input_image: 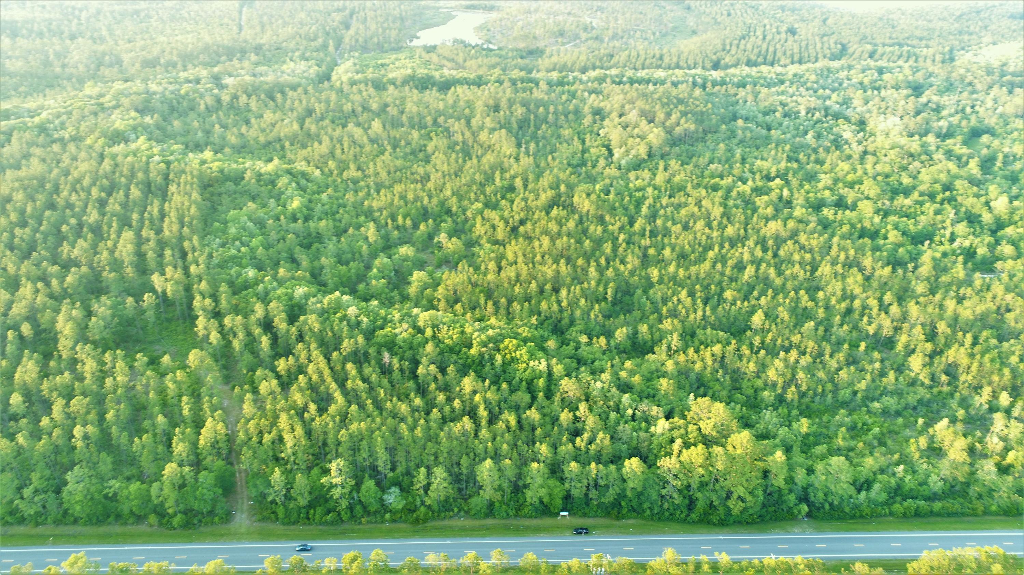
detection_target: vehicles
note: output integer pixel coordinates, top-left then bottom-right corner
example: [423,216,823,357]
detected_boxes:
[297,543,313,551]
[573,527,588,534]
